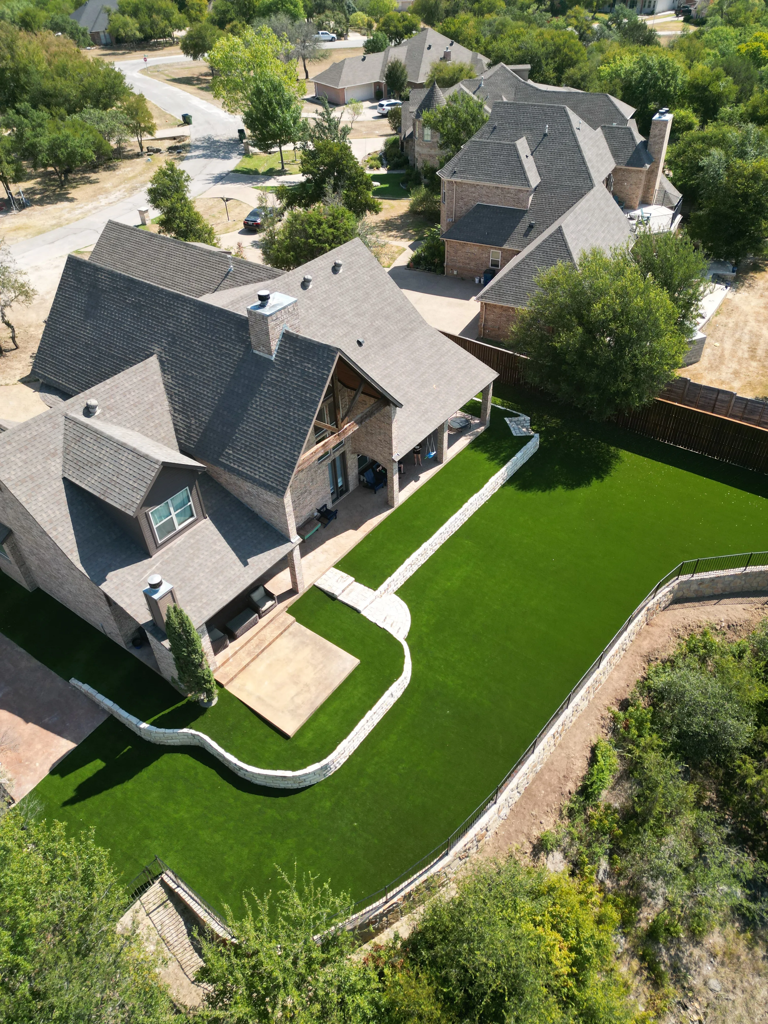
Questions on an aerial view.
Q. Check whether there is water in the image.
No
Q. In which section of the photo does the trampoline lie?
center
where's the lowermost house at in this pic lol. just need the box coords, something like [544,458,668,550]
[0,218,502,701]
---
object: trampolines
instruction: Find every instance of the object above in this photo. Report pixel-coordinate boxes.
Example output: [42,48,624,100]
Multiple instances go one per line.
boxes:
[449,408,472,433]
